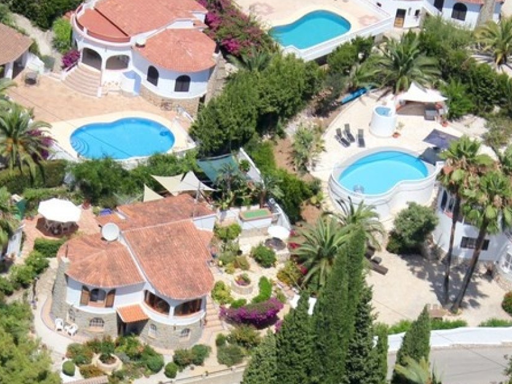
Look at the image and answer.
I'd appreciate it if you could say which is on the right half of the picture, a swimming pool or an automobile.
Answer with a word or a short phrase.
swimming pool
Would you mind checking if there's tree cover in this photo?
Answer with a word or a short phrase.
Yes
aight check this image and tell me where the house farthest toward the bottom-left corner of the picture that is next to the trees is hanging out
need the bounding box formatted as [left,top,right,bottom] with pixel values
[52,193,217,344]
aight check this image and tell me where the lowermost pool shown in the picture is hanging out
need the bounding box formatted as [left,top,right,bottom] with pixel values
[327,147,442,235]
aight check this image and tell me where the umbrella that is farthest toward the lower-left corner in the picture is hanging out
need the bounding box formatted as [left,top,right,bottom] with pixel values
[38,199,82,224]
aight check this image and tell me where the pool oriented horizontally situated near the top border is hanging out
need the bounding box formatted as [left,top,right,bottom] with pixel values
[262,6,358,49]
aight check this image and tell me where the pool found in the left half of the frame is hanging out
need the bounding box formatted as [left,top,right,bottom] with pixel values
[57,111,187,165]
